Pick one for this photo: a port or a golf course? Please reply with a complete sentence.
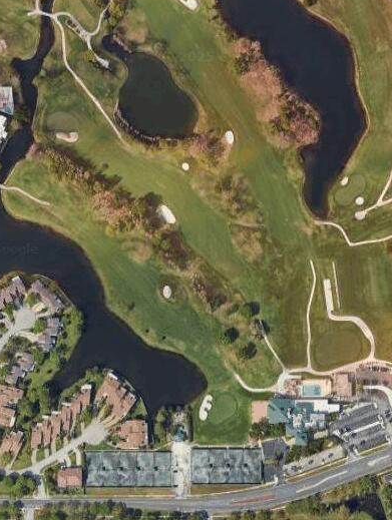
The area seen from above is a golf course.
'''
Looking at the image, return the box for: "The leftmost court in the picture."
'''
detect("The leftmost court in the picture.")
[85,452,103,487]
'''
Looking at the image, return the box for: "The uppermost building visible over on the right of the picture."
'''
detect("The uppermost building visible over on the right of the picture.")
[336,375,351,398]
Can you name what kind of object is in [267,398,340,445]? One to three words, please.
building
